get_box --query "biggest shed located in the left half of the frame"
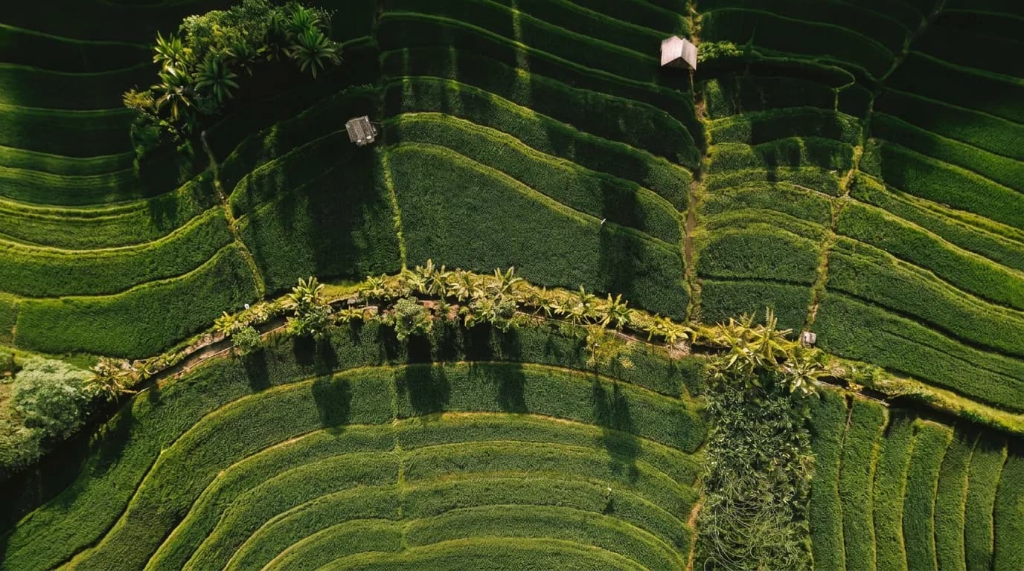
[347,116,385,151]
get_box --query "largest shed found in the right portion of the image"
[661,33,698,77]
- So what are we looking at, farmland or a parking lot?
farmland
